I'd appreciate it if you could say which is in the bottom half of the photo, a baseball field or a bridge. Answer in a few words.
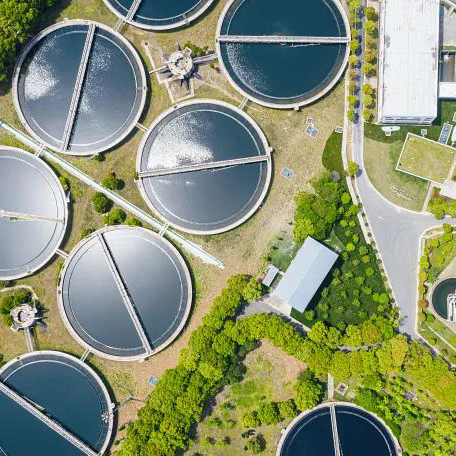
bridge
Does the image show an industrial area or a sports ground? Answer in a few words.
industrial area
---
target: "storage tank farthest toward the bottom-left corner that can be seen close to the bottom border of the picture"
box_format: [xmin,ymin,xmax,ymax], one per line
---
[0,351,116,456]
